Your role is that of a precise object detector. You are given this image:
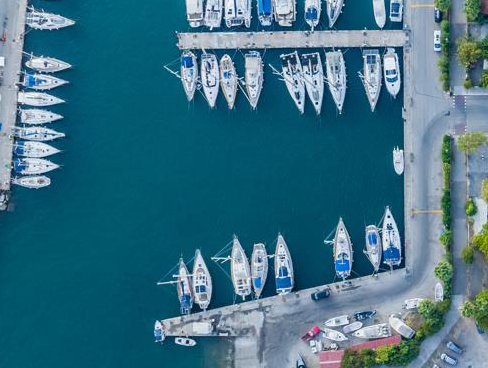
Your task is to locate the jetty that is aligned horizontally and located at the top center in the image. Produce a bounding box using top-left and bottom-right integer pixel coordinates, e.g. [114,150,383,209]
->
[178,31,403,49]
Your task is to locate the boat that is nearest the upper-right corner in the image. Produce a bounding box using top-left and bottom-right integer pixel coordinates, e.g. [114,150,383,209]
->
[390,0,403,22]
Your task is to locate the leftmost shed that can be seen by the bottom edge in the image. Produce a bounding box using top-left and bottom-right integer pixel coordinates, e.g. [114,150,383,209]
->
[320,349,346,368]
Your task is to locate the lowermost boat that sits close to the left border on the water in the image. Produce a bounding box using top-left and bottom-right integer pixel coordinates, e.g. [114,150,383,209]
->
[10,175,55,190]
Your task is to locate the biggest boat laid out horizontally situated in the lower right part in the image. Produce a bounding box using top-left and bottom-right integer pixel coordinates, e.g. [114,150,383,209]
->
[354,323,392,337]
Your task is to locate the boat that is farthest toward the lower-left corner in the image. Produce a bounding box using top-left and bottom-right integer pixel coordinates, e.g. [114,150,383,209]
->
[152,321,165,344]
